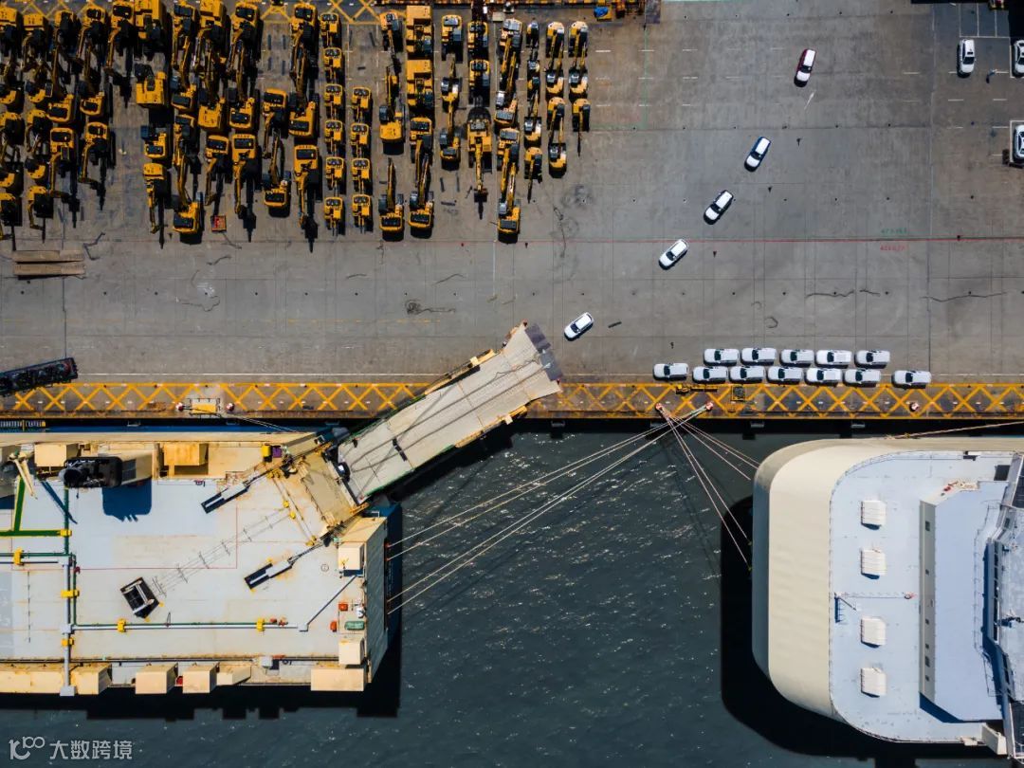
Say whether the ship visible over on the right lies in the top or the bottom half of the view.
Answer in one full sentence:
The ship visible over on the right is in the bottom half of the image.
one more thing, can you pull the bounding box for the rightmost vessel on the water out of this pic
[752,433,1024,756]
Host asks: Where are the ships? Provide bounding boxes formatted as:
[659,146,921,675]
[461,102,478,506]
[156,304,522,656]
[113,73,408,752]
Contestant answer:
[752,433,1024,756]
[0,321,574,695]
